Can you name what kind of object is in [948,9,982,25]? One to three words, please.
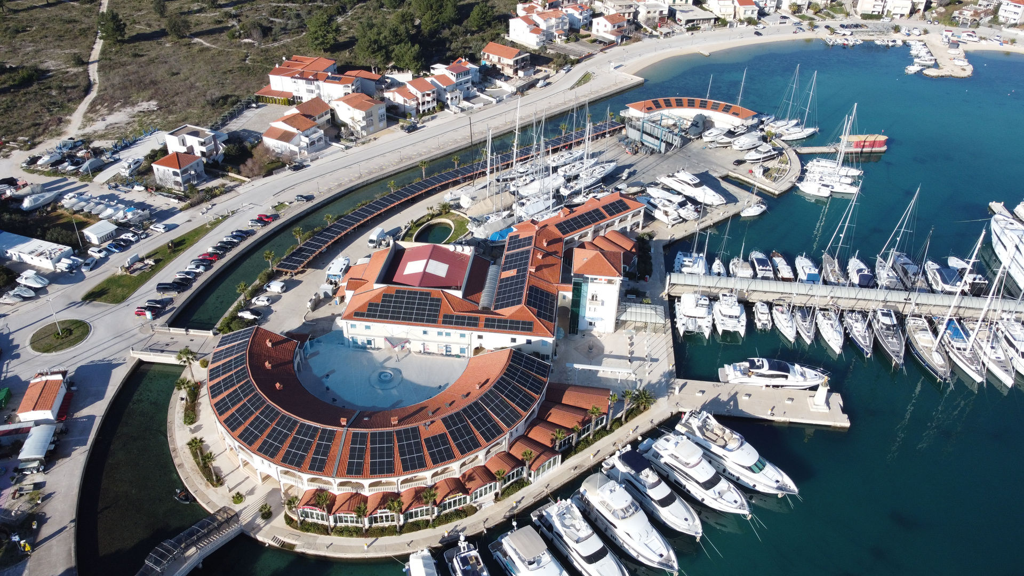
house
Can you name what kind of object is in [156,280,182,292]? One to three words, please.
vehicle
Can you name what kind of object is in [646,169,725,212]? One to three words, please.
boat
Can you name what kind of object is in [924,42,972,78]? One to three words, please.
pier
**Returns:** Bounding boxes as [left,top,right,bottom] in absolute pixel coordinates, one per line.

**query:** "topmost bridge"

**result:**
[126,323,222,366]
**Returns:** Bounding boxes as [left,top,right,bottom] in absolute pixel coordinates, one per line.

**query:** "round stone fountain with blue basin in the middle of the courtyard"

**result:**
[366,364,405,389]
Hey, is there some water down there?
Yes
